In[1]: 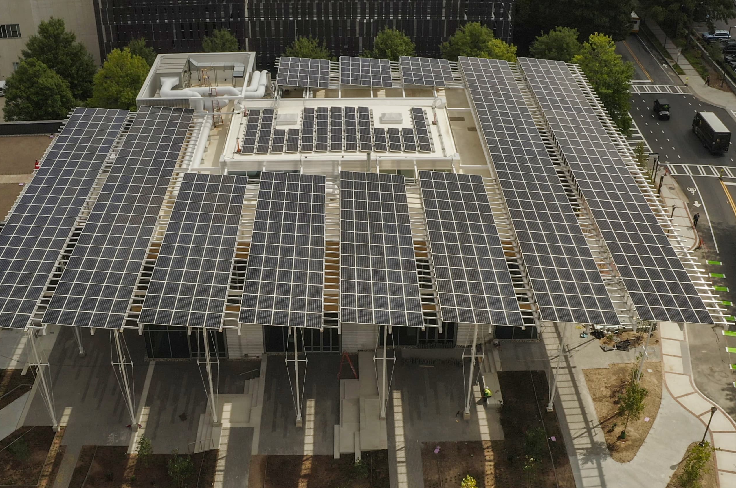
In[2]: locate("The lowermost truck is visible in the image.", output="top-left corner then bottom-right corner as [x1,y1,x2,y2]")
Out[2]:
[696,115,735,152]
